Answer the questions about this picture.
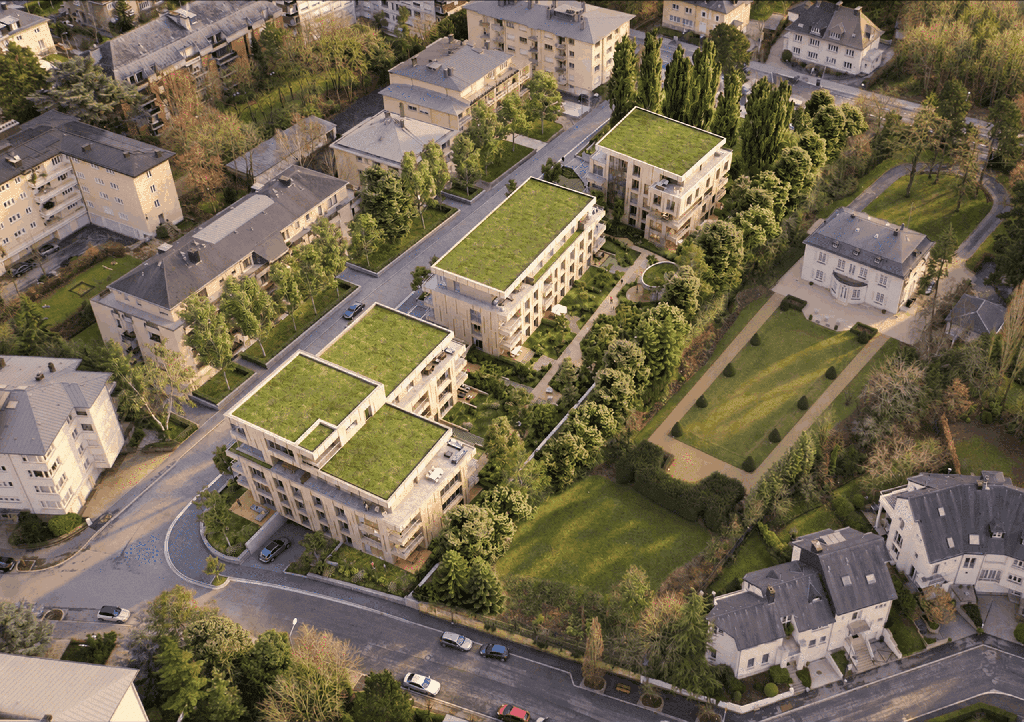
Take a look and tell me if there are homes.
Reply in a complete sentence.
Yes, a home is visible in the scene.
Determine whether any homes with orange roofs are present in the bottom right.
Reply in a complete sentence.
No, I see no home with an orange roof in the bottom right.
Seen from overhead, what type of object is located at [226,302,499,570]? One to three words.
building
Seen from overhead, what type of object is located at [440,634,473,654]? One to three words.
car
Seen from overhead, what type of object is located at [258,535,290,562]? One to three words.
car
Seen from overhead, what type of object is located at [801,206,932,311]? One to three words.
house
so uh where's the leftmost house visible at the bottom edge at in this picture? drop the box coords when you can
[0,653,146,722]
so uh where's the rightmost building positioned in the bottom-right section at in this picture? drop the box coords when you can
[870,462,1024,607]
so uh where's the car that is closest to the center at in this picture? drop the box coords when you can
[341,301,368,320]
